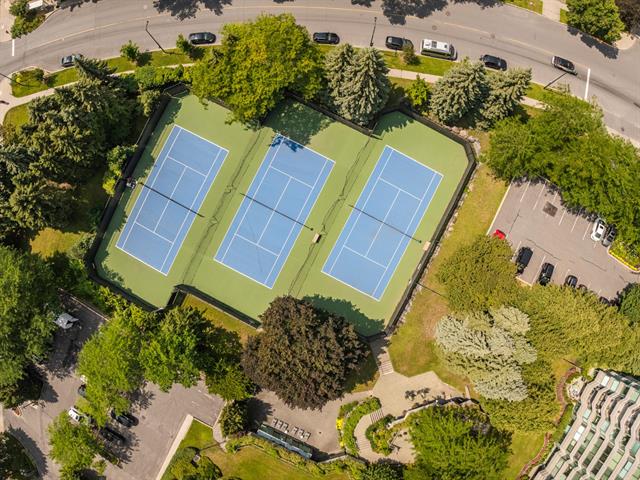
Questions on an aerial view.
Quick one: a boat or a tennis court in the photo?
tennis court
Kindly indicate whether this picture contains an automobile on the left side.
Yes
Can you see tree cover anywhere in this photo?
Yes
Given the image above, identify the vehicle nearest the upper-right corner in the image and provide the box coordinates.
[549,55,579,75]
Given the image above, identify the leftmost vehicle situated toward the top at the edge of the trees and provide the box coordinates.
[58,52,88,69]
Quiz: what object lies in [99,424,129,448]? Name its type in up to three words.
car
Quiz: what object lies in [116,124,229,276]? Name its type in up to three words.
tennis court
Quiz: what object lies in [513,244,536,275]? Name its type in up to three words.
car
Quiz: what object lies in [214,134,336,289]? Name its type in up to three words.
tennis court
